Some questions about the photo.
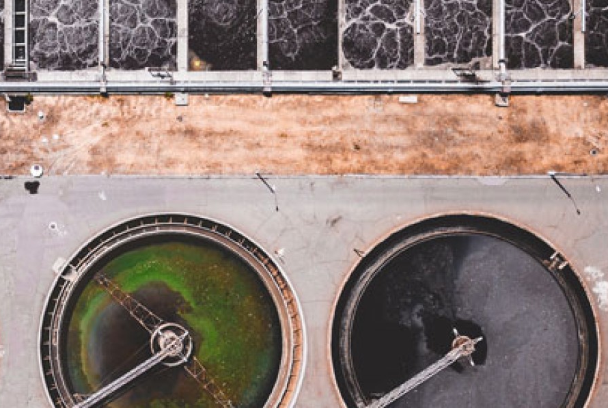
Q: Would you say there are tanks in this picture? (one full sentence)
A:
Yes, I can see a tank in this picture.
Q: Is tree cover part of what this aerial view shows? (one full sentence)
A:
No, no tree cover is visible.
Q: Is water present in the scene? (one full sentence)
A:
Yes, some water is visible.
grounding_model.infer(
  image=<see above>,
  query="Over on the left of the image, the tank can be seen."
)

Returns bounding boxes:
[39,214,306,408]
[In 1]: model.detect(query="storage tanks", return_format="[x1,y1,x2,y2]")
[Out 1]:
[39,214,306,408]
[331,213,599,408]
